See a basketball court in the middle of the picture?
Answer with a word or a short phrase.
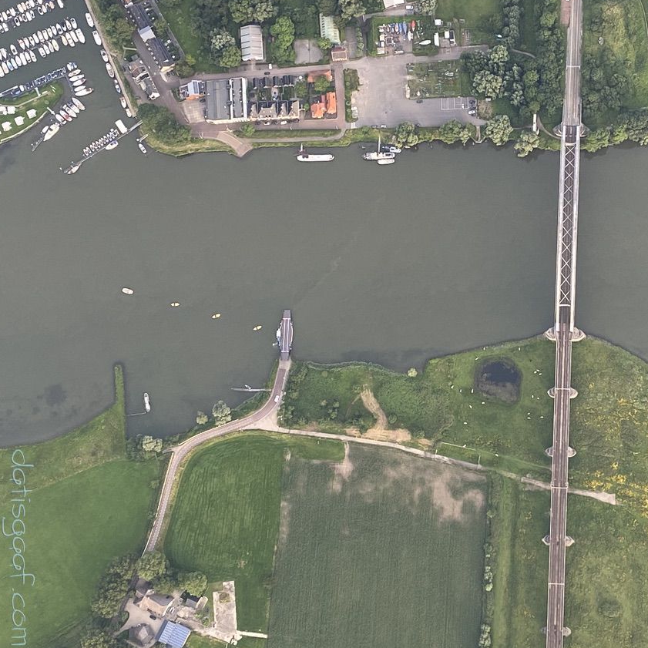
No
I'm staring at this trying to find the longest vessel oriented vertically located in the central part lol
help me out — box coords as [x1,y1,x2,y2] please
[273,311,293,359]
